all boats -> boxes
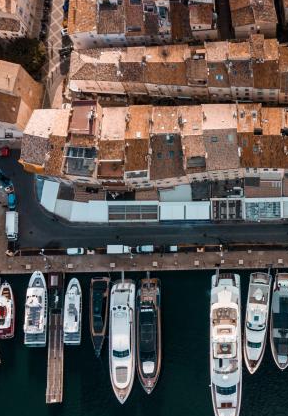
[244,265,271,382]
[108,270,139,411]
[208,268,242,416]
[133,270,164,402]
[90,277,110,356]
[63,277,85,347]
[269,267,288,377]
[0,281,19,339]
[22,270,51,347]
